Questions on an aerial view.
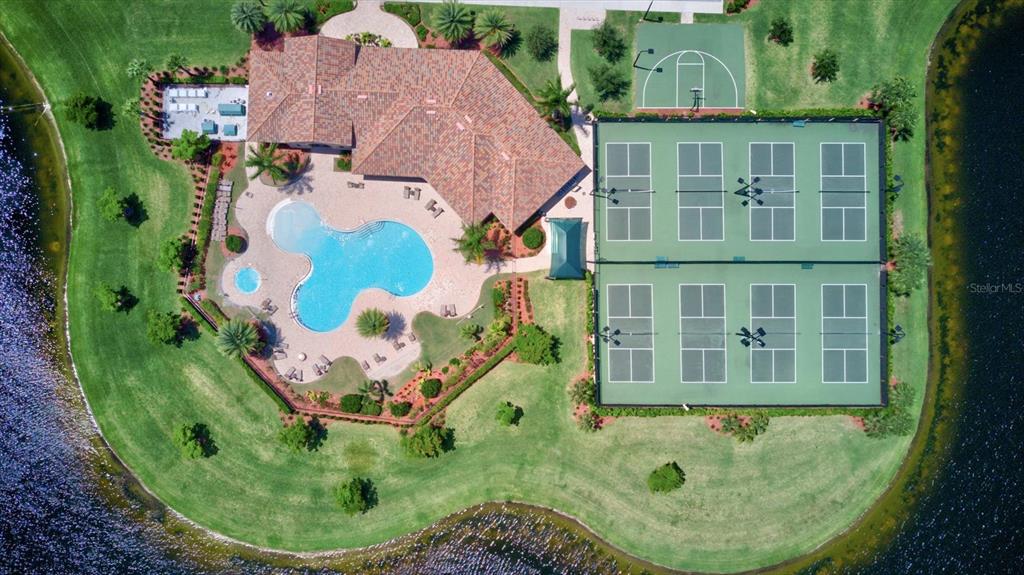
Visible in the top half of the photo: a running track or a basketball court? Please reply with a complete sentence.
The feature located in the top half of the photo is a basketball court.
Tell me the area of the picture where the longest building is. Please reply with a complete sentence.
The longest building sits in the top section of the image.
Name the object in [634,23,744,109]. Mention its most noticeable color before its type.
green basketball court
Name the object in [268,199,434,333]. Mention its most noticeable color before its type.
blue swimming pool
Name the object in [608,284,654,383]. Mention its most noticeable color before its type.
gray sports court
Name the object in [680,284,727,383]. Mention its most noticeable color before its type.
gray sports court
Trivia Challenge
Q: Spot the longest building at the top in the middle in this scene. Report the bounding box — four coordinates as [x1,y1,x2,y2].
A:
[246,33,585,232]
